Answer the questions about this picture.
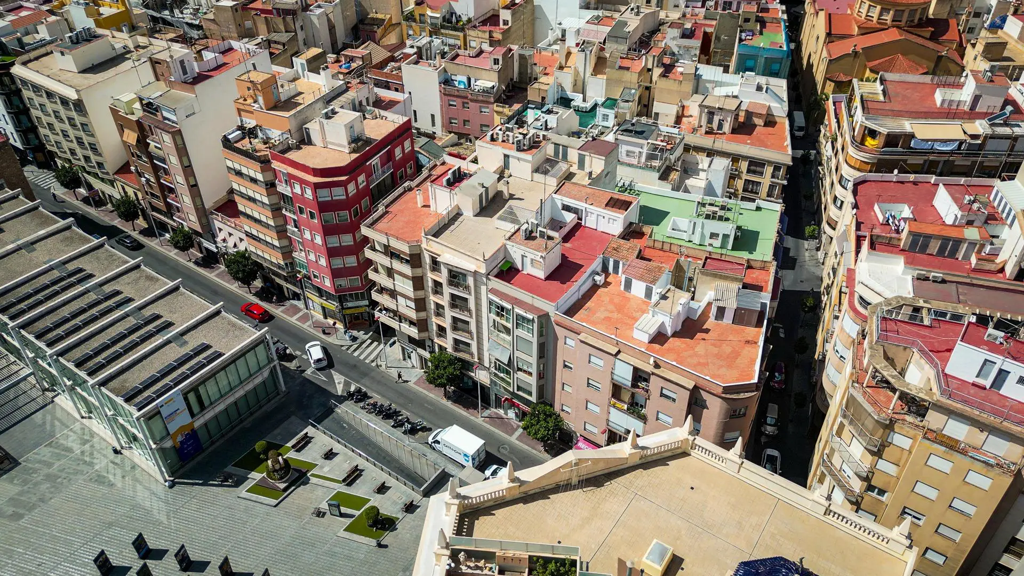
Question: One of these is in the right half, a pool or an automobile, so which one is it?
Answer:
automobile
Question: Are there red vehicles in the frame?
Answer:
Yes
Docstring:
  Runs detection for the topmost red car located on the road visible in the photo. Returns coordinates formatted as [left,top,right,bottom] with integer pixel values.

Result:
[242,302,271,321]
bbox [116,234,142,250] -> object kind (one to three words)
car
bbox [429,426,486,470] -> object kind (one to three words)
truck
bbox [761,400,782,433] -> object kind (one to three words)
car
